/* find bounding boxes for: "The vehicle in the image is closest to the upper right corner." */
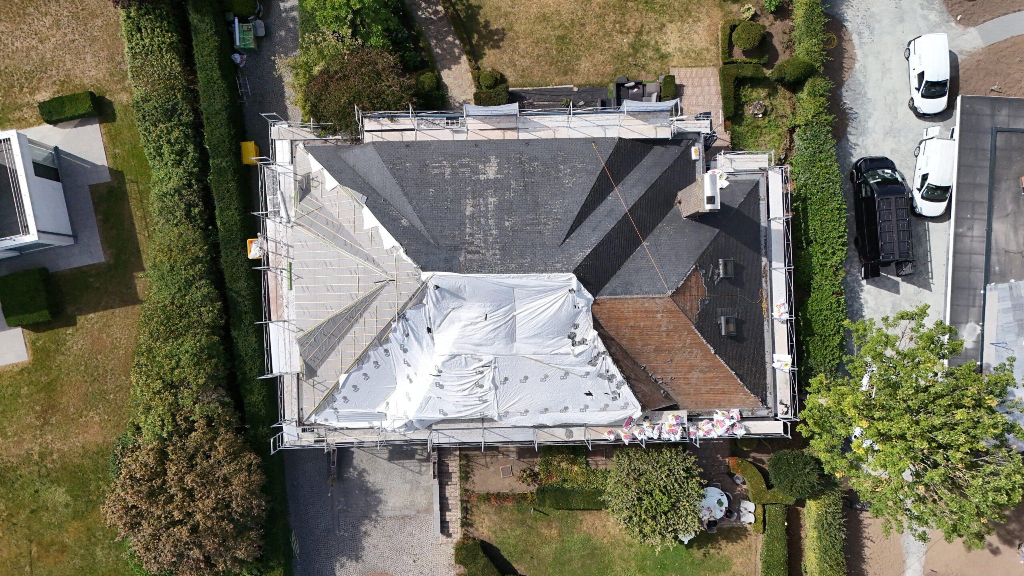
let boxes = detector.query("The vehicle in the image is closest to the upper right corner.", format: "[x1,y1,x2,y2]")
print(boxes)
[901,33,952,119]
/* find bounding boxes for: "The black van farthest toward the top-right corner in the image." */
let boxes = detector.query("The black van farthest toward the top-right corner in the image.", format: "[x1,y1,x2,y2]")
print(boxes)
[851,155,914,277]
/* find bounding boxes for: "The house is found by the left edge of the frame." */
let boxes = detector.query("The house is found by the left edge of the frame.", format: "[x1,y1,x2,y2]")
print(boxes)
[0,129,81,258]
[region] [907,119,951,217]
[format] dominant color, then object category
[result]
white van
